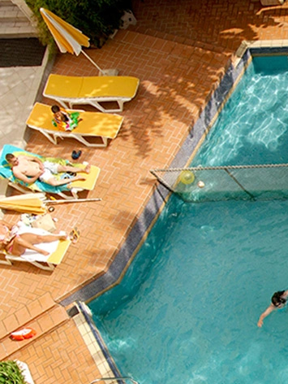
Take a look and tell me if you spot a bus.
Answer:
No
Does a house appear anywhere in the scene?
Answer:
No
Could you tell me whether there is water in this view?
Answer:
Yes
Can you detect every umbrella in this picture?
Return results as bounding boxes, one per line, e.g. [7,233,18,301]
[39,8,116,76]
[0,193,100,216]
